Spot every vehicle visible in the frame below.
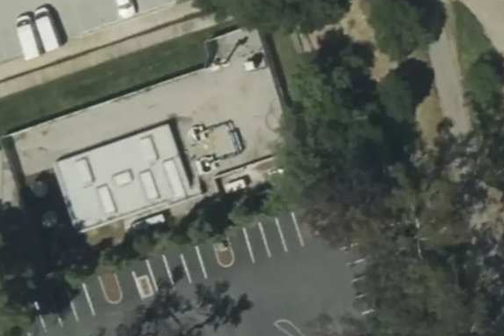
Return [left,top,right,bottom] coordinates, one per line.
[39,6,64,54]
[118,0,137,16]
[19,13,43,59]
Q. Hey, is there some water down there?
No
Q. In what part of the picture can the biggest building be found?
left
